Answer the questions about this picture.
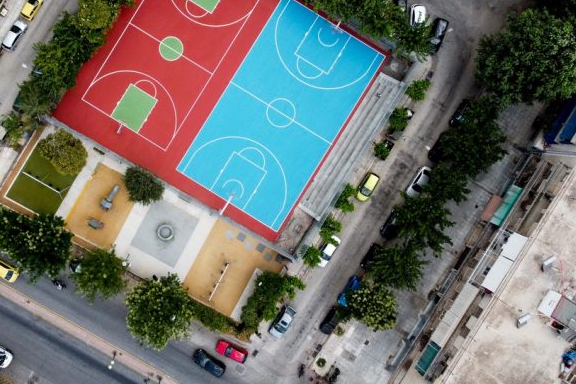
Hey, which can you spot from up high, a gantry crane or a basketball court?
basketball court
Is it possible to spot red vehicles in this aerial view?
Yes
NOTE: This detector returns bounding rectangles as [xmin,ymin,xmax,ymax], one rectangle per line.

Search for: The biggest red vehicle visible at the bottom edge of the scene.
[215,338,250,366]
